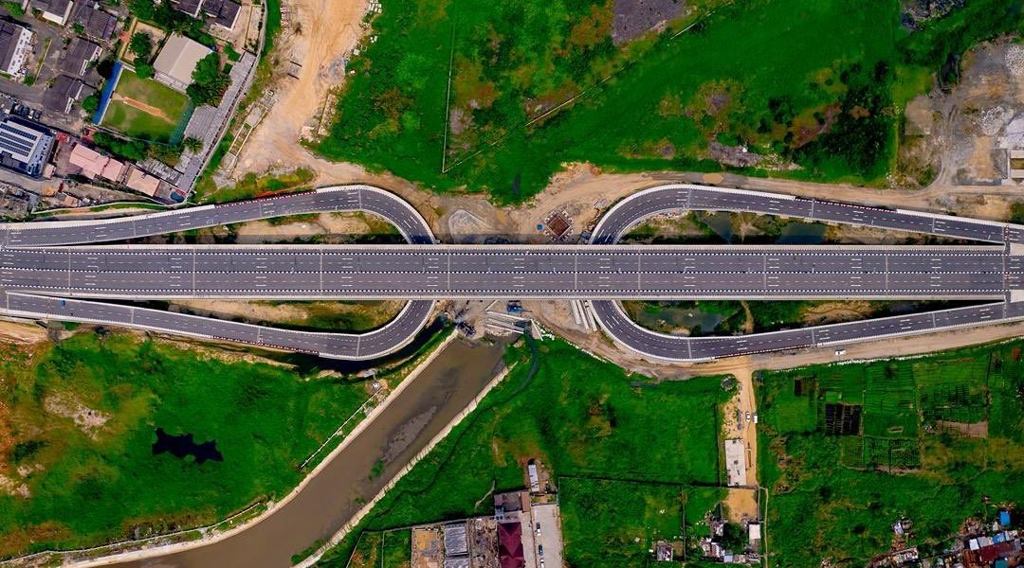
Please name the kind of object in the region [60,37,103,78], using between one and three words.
house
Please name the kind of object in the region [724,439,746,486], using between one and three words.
building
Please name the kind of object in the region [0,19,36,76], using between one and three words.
building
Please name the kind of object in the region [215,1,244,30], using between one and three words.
house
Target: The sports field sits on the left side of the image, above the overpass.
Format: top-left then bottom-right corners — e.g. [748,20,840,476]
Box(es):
[104,69,194,143]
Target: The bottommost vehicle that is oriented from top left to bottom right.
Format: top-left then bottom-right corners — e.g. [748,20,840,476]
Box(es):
[454,314,474,337]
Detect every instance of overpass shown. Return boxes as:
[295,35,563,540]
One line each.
[0,224,1024,321]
